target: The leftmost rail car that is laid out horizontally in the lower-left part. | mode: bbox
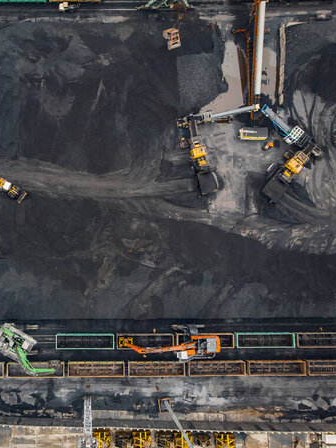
[6,360,67,377]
